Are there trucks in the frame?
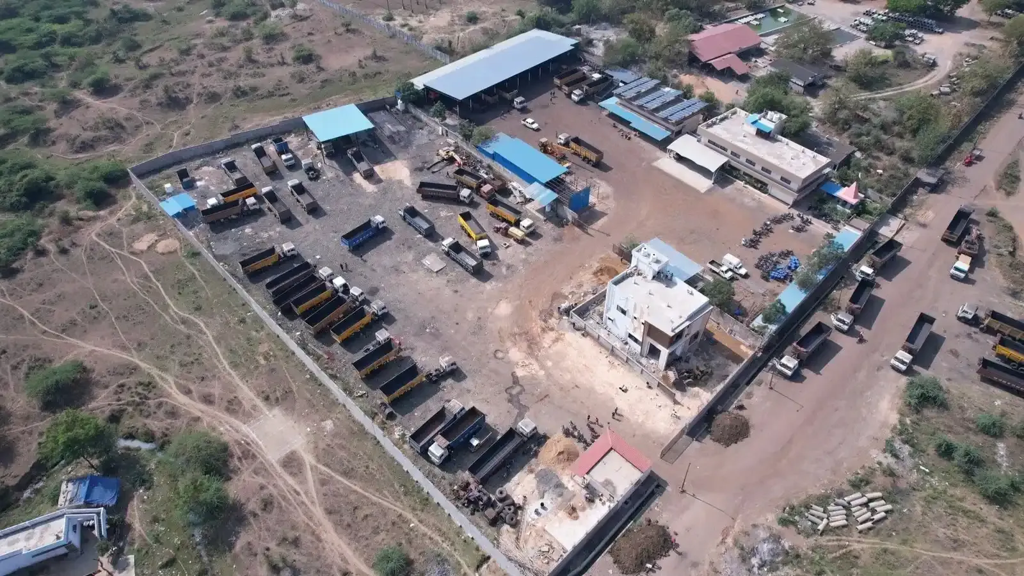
Yes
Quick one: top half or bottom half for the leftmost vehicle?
top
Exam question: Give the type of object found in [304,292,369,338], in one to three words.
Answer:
truck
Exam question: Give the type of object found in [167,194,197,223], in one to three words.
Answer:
shed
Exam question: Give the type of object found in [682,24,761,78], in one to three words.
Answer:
building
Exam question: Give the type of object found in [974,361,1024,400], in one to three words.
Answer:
vehicle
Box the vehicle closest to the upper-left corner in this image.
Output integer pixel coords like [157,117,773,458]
[175,167,196,192]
